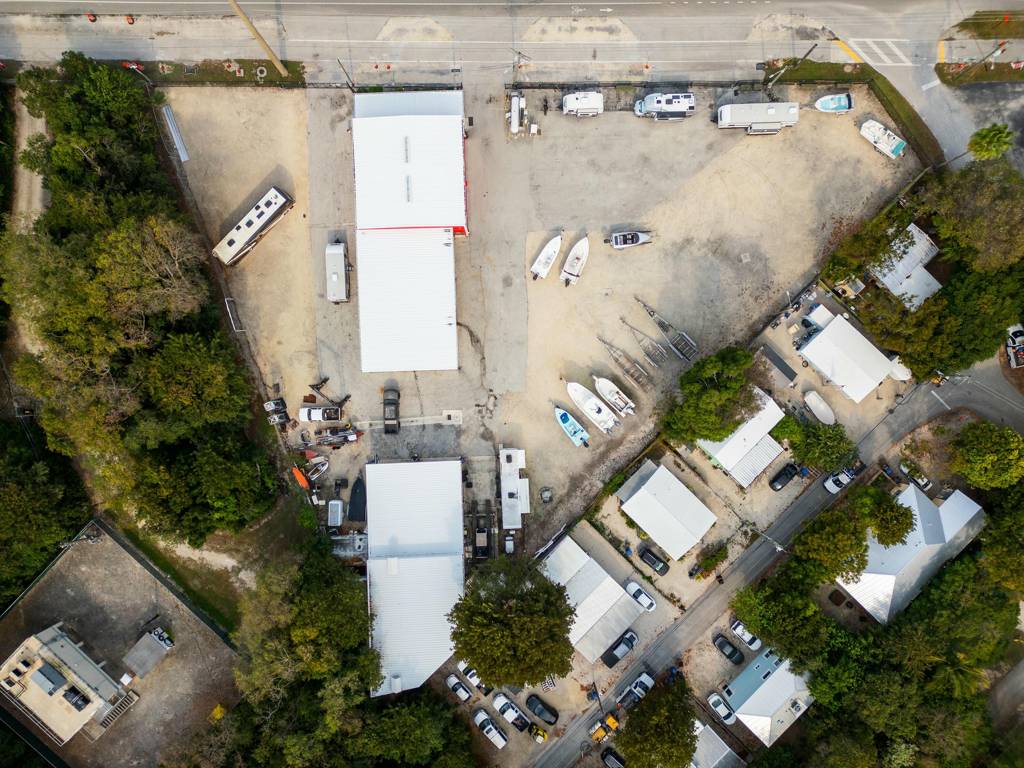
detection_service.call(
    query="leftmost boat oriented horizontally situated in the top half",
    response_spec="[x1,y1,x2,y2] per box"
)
[606,231,651,248]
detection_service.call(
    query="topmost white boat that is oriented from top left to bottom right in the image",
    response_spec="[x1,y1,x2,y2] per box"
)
[860,122,905,159]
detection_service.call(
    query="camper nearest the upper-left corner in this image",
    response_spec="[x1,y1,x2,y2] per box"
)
[214,184,295,269]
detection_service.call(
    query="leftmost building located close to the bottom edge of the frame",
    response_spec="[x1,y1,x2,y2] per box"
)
[0,612,141,746]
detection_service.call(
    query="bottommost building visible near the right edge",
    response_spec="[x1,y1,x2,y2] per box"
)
[842,483,986,625]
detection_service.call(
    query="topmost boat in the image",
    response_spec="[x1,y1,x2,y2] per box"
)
[813,94,856,112]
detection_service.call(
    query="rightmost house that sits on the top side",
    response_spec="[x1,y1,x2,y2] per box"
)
[861,223,941,312]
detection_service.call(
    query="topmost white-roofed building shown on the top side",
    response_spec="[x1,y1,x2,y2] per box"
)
[351,89,472,238]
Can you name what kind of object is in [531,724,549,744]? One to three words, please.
work vehicle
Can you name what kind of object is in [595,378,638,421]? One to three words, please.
boat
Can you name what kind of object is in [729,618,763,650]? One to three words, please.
car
